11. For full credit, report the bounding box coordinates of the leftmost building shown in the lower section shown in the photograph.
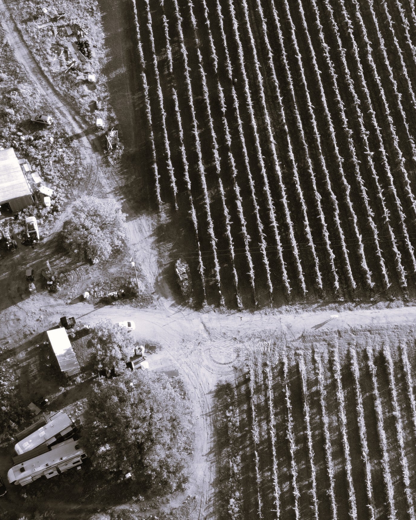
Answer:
[47,327,86,385]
